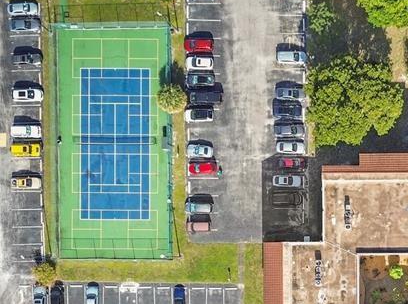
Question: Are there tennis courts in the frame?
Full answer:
Yes, the frame does contain a tennis court.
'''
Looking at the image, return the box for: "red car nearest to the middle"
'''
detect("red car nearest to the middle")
[187,161,216,175]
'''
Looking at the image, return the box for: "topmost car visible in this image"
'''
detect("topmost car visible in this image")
[9,2,40,17]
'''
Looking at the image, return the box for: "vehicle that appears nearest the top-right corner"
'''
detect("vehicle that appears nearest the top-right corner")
[275,49,307,64]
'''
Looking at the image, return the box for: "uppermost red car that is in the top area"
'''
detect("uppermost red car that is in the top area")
[183,38,213,53]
